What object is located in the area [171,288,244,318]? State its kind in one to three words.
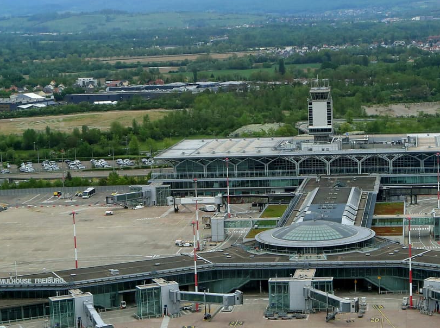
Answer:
jet bridge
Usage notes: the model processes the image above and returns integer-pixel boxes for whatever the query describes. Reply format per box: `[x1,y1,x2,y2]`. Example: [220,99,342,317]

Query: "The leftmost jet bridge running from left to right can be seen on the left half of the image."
[105,189,146,206]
